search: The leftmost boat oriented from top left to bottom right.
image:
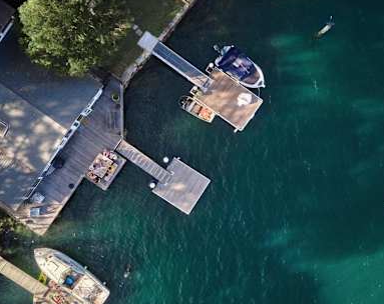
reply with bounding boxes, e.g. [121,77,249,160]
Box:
[31,249,111,304]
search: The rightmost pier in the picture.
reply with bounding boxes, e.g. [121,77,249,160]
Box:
[193,68,263,131]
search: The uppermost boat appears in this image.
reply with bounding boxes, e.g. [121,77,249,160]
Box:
[207,43,269,88]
